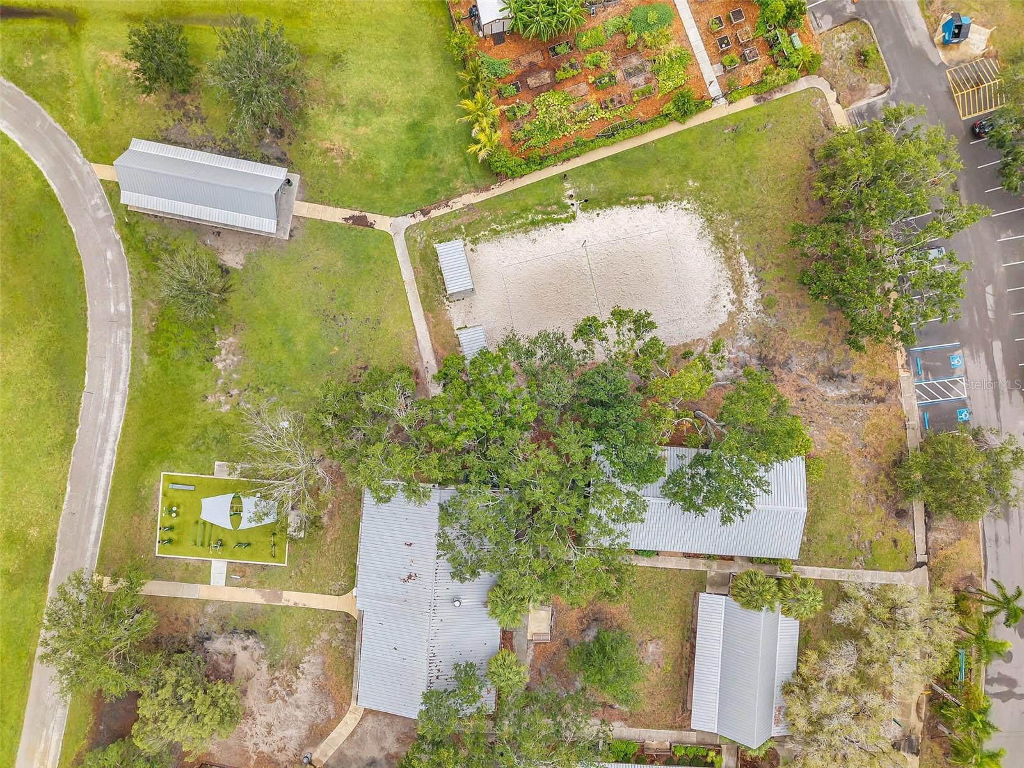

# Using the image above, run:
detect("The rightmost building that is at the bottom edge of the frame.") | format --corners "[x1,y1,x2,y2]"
[690,592,800,749]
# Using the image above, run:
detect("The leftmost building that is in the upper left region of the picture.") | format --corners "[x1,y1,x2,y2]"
[113,138,288,234]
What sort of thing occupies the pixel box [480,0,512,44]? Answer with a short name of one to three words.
shed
